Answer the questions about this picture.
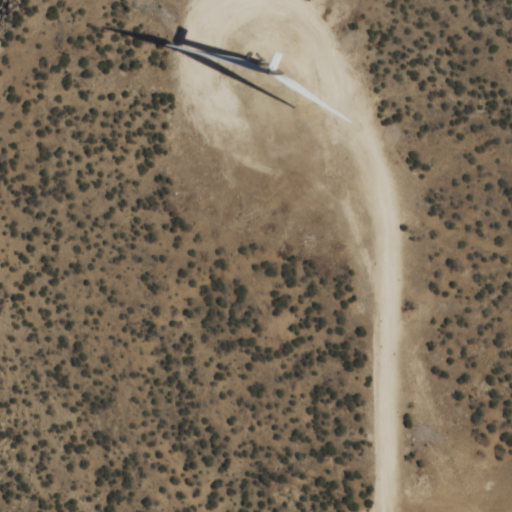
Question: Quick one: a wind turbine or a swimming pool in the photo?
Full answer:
Visible in the photo is a wind turbine.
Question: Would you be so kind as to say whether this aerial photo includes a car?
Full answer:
No, the scene contains no car.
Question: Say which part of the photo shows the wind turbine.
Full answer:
The wind turbine sits in the top section of the image.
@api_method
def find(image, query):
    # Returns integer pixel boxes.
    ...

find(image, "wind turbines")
[166,46,352,124]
